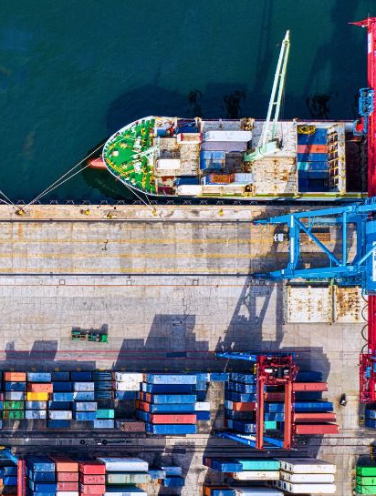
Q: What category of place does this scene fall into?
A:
port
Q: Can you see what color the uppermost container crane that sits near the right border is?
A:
blue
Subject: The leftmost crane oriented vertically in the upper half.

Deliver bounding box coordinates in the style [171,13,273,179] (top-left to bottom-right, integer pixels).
[237,28,292,168]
